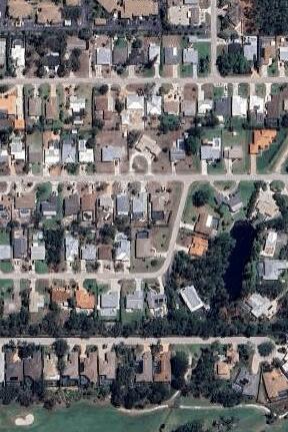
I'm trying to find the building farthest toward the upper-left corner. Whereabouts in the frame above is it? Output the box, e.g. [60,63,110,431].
[7,0,32,19]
